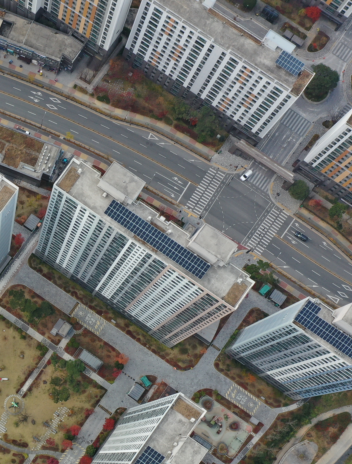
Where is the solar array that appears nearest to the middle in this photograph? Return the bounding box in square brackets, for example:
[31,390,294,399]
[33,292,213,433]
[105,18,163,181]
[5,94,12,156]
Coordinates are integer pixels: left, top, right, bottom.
[104,199,209,279]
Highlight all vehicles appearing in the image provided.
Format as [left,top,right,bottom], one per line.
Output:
[239,169,252,182]
[16,125,32,135]
[294,231,308,242]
